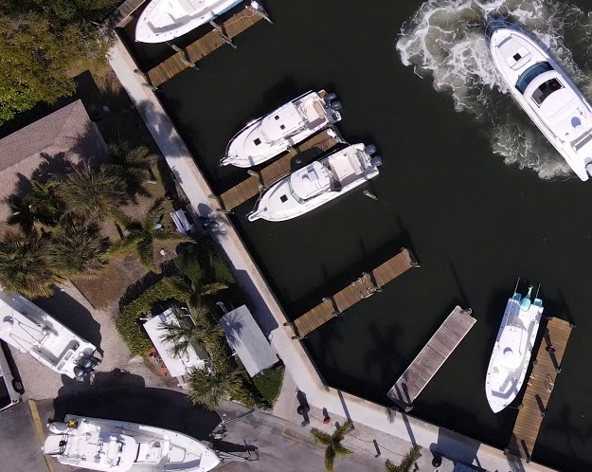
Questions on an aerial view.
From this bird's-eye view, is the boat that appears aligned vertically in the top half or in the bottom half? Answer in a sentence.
The boat that appears aligned vertically is in the bottom half of the image.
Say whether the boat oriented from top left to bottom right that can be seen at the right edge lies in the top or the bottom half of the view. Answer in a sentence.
You can find the boat oriented from top left to bottom right that can be seen at the right edge in the top half.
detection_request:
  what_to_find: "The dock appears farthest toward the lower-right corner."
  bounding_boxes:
[501,316,577,464]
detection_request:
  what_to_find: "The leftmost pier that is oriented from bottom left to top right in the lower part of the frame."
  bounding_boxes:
[283,247,422,343]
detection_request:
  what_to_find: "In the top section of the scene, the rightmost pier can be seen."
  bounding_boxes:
[210,123,343,218]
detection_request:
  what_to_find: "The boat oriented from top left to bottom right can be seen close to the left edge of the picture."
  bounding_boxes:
[0,283,112,382]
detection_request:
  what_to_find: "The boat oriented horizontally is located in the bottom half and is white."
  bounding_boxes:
[37,416,219,472]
